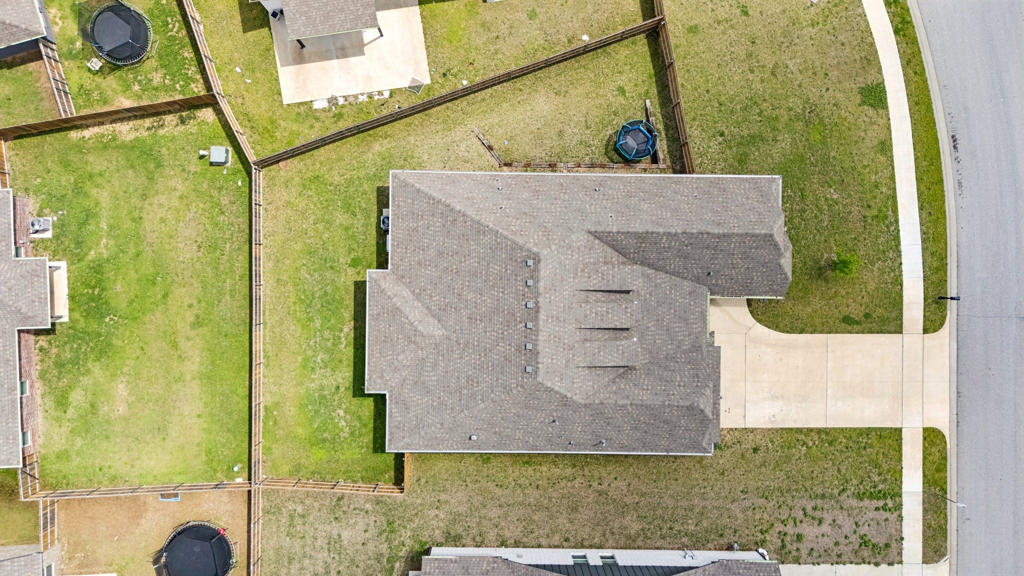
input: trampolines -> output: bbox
[77,0,158,68]
[616,119,658,161]
[149,520,239,576]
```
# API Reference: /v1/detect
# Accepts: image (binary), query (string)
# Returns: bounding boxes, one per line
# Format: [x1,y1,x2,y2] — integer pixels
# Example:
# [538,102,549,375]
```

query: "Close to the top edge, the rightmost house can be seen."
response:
[281,0,384,50]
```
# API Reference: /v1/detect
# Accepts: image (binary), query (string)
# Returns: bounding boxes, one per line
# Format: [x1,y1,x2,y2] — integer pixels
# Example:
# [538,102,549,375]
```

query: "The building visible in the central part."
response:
[363,168,792,458]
